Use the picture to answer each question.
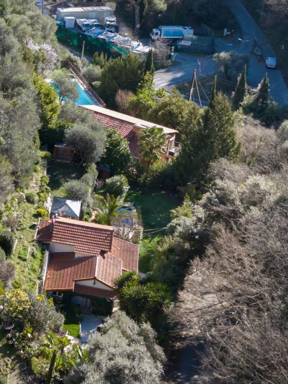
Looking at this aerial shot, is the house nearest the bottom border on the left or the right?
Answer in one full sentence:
The house nearest the bottom border appears in the left half of the scene.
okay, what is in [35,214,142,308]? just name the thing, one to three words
house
